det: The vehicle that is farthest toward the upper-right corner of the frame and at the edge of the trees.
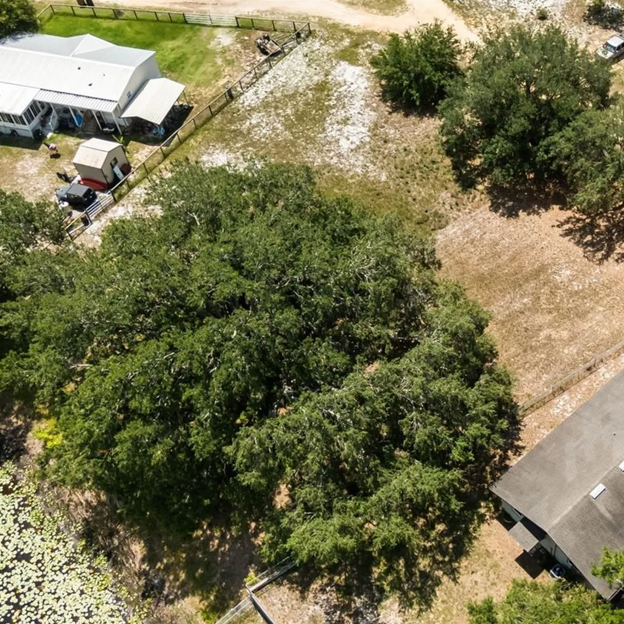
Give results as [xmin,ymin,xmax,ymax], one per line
[597,24,624,56]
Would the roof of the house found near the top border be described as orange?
No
